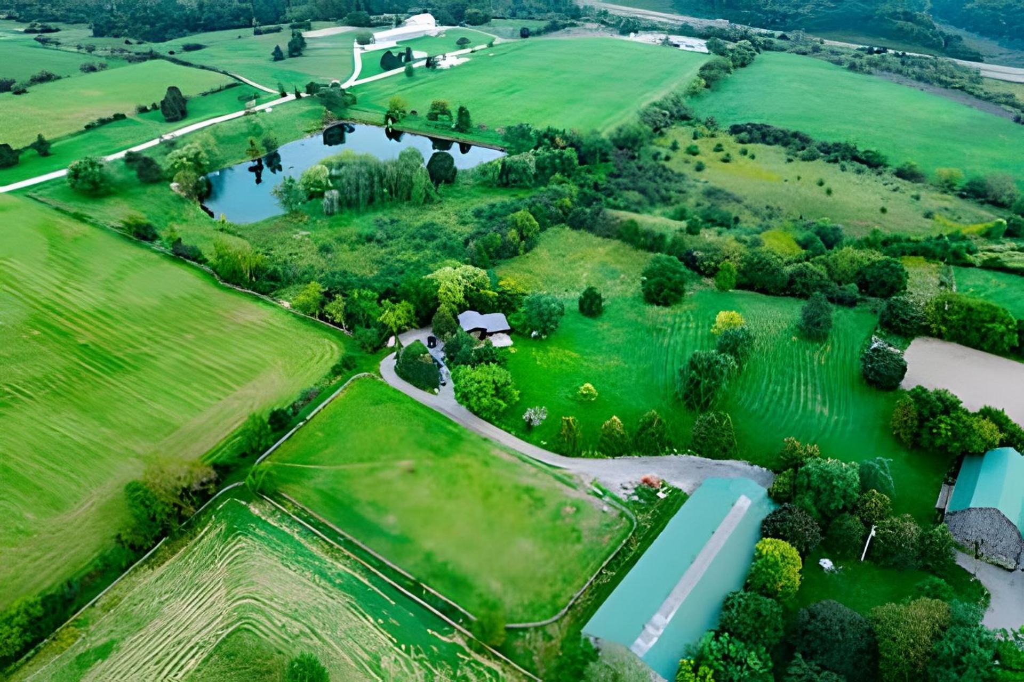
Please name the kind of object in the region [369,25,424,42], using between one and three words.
shed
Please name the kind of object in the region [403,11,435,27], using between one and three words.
barn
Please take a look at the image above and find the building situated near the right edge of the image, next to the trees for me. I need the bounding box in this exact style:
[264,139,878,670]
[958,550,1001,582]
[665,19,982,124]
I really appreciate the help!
[923,447,1024,568]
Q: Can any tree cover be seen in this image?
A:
Yes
